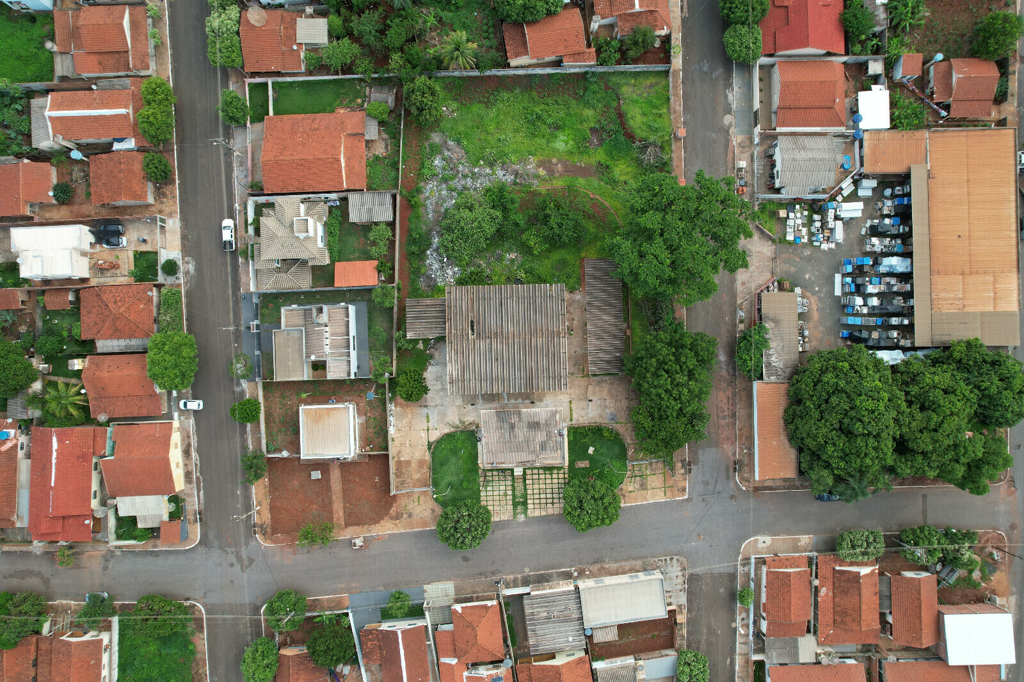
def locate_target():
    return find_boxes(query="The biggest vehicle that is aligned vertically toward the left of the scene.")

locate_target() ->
[222,219,236,250]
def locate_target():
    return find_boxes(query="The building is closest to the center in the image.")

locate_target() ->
[445,283,569,394]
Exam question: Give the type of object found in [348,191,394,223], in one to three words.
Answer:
shed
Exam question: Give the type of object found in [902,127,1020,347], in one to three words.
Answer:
warehouse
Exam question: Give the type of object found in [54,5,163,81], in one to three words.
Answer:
house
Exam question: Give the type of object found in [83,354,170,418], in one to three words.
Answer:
house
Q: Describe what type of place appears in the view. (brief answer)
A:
residential area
